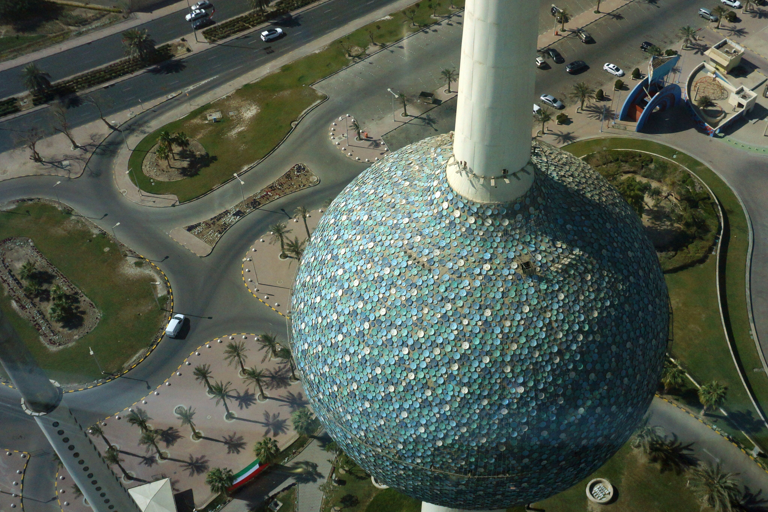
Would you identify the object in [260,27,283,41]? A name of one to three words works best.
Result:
vehicle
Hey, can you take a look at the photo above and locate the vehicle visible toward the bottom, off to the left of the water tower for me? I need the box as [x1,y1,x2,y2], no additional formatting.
[166,313,185,335]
